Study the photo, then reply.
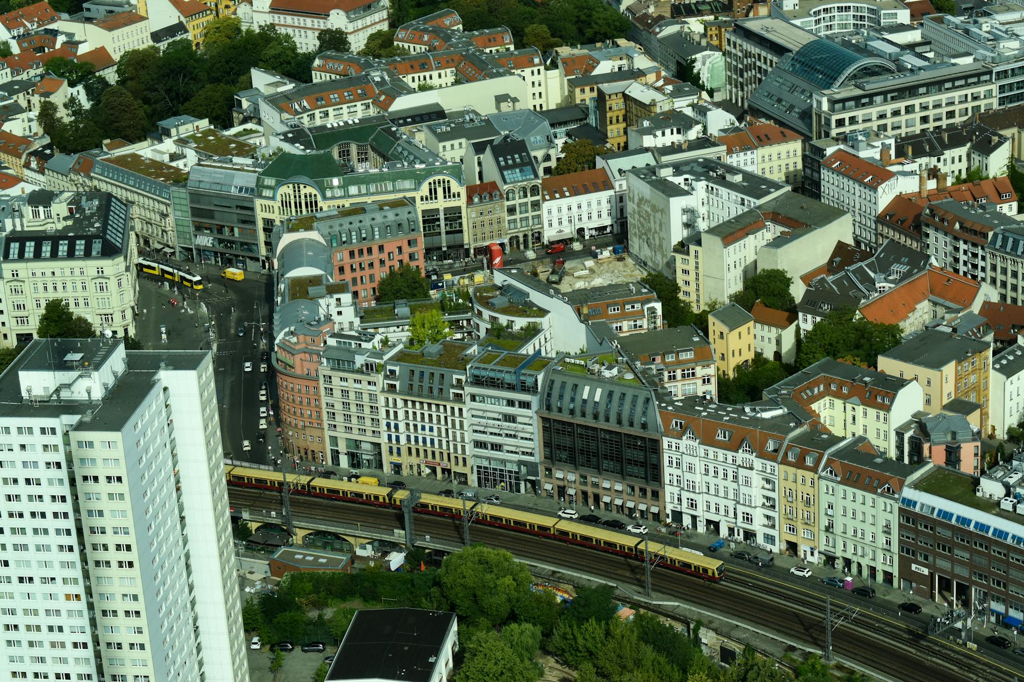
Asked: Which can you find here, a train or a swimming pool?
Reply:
train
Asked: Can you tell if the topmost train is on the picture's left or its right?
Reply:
left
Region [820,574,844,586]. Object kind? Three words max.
vehicle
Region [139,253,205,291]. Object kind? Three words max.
train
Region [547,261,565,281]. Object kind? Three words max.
vehicle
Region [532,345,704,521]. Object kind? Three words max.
building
